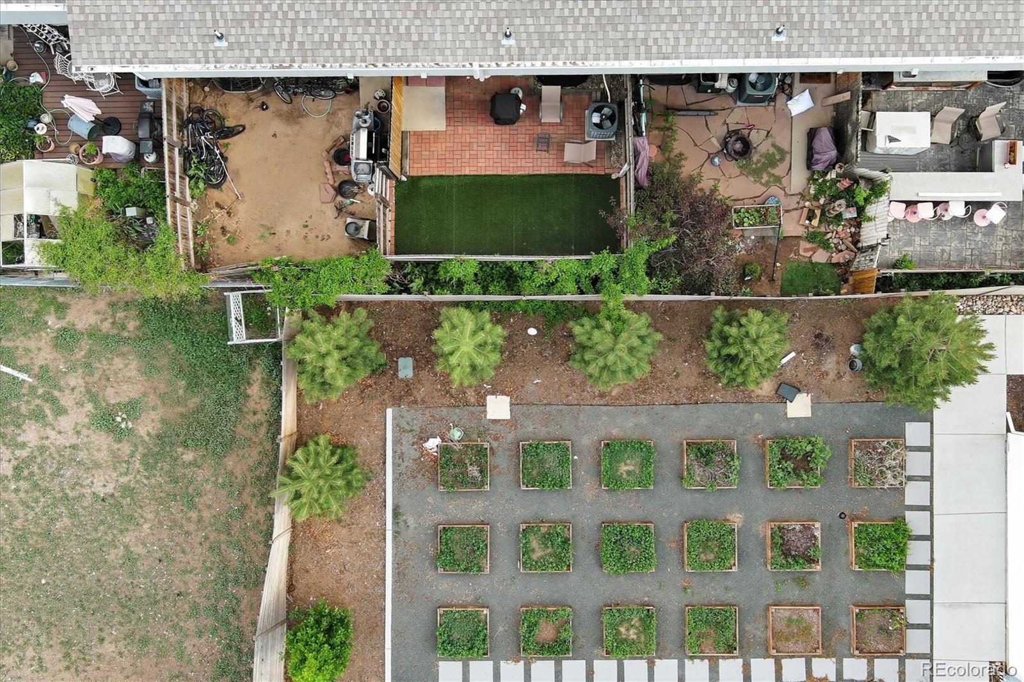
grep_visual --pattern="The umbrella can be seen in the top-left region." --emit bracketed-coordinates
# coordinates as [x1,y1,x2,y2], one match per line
[58,94,120,134]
